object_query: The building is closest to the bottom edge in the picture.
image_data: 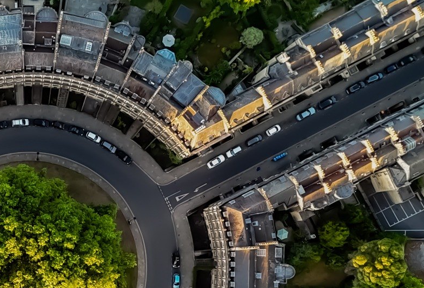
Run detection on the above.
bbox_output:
[207,240,291,288]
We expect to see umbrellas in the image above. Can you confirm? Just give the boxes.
[277,228,288,239]
[161,35,174,47]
